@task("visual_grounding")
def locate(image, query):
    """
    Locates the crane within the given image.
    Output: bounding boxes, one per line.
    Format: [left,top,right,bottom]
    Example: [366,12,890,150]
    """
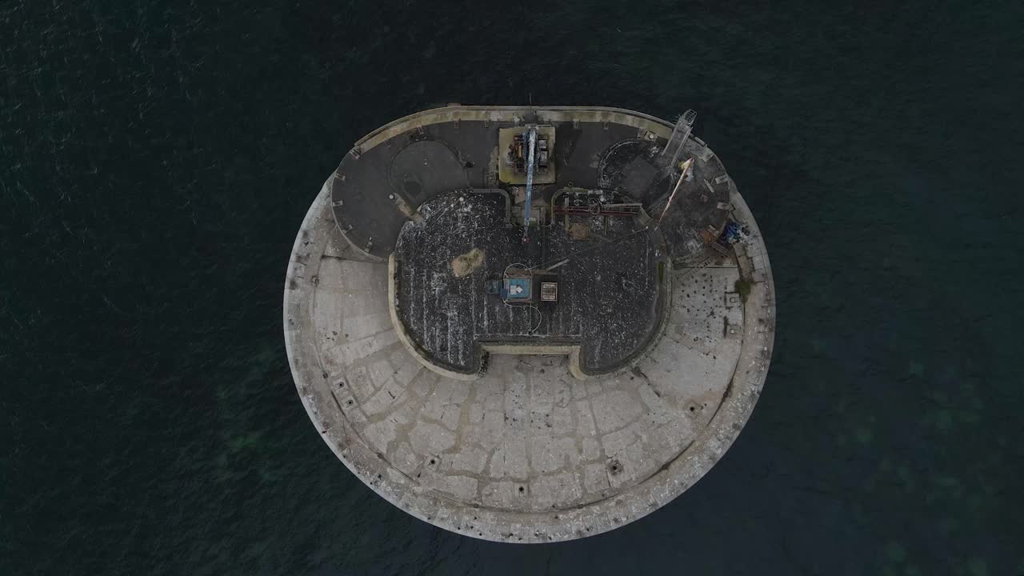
[510,120,552,243]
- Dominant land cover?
water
